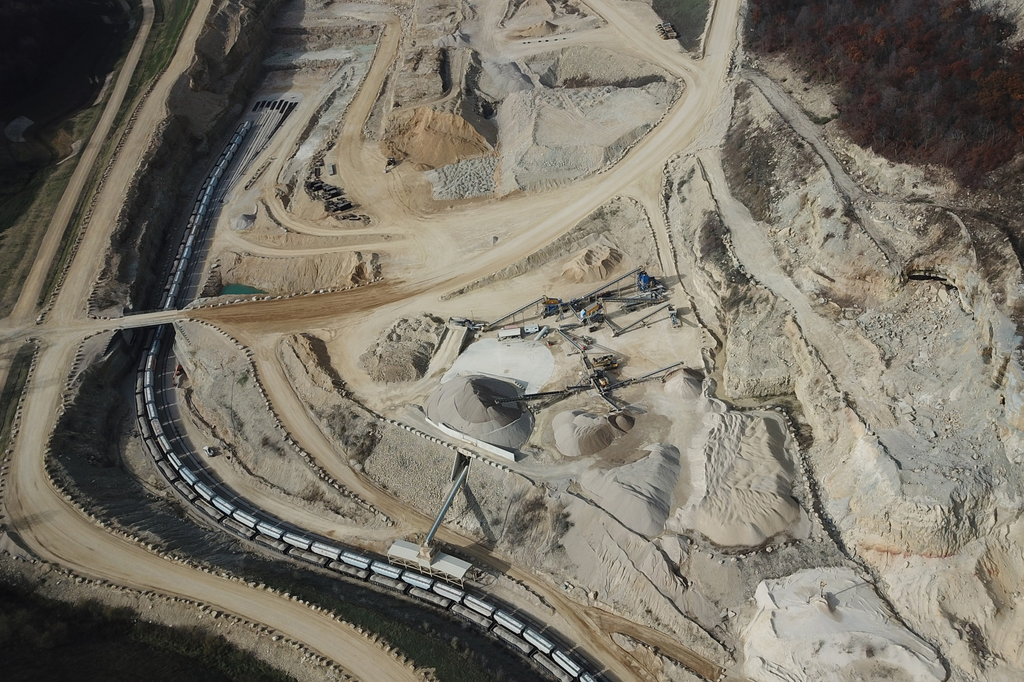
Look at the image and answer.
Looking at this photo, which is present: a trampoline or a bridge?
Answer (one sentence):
The one in the frame is a bridge.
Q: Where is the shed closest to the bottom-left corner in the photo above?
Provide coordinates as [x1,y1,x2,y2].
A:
[384,535,470,590]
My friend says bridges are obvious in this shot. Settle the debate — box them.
[102,307,190,356]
